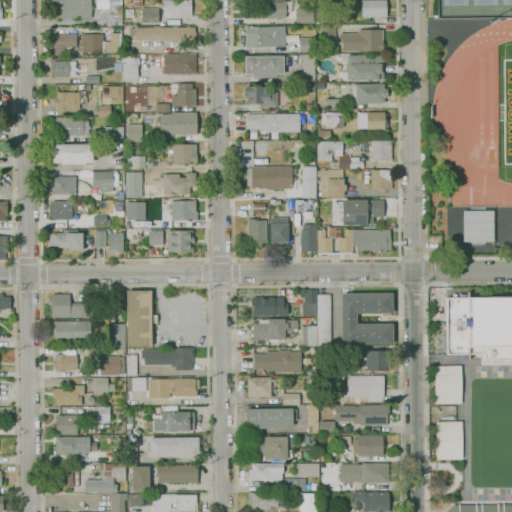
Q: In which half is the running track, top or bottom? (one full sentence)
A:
The top half of the photo is where the running track is.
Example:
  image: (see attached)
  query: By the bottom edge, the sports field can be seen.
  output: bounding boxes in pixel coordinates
[472,378,512,487]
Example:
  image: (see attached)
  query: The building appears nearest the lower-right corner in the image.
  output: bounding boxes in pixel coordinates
[436,422,465,460]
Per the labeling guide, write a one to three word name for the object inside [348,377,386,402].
building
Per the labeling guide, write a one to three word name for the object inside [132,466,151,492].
shed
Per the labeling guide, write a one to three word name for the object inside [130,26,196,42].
house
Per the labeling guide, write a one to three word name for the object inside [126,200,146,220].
shed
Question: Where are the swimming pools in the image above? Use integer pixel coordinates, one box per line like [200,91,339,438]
[319,59,338,76]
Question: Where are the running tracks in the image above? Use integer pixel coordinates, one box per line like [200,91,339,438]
[434,20,512,206]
